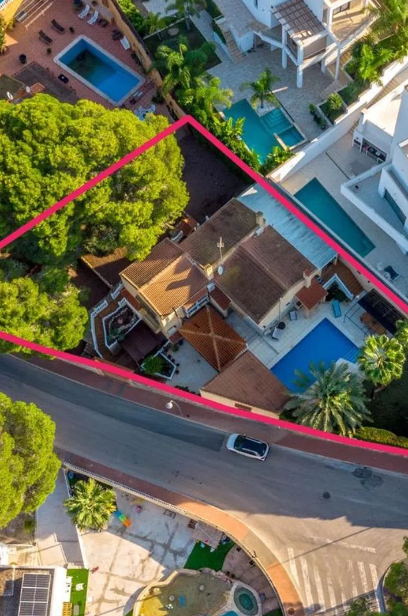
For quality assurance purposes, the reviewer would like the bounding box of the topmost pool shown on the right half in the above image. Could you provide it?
[228,97,308,168]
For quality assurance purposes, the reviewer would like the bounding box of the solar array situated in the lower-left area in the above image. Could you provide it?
[17,574,50,616]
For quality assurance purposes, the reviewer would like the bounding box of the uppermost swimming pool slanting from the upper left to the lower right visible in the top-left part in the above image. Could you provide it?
[51,35,147,107]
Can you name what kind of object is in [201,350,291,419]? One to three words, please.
building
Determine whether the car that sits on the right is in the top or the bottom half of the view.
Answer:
bottom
